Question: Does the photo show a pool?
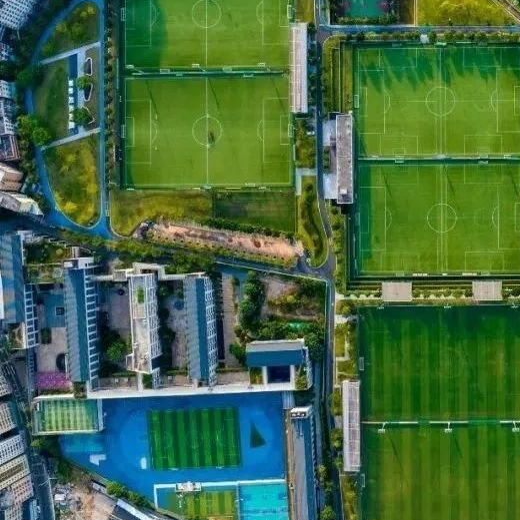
No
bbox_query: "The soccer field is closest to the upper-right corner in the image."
[343,39,520,159]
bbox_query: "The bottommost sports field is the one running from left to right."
[156,484,237,520]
